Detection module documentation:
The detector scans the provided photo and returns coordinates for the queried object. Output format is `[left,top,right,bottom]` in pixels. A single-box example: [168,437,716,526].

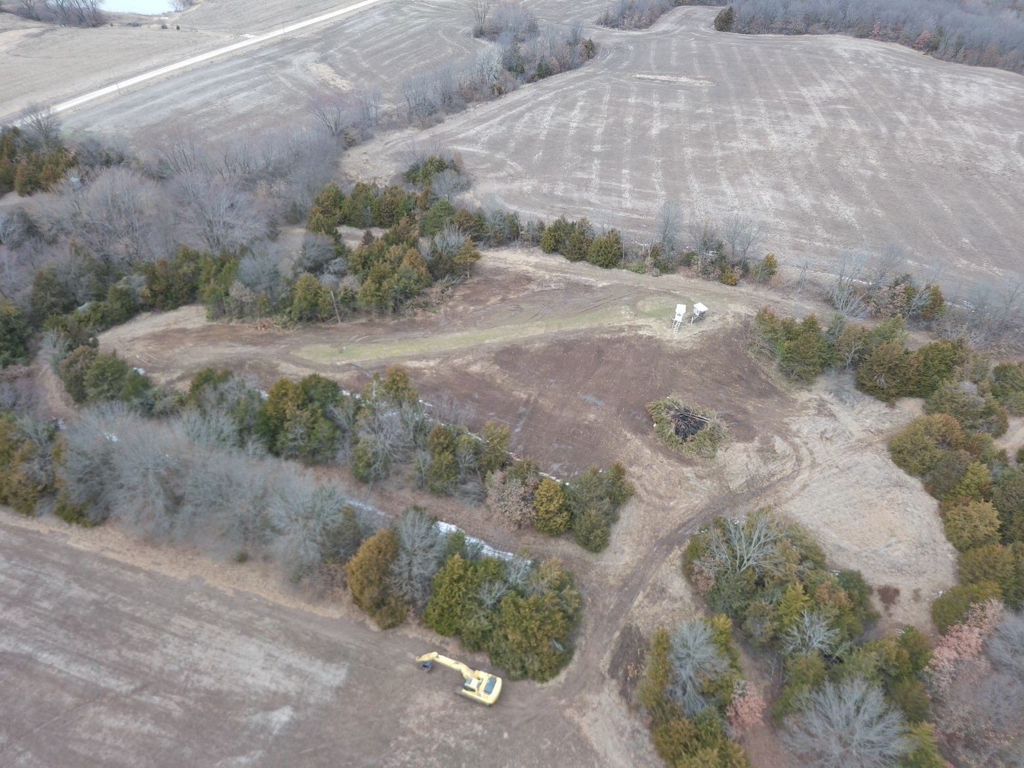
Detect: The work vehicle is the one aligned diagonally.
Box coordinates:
[414,650,501,712]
